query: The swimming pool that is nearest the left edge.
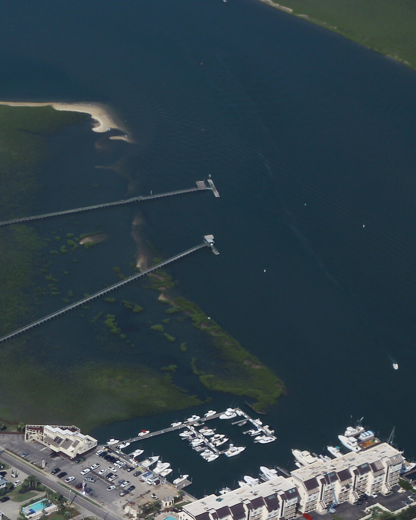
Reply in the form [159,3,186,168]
[22,498,55,516]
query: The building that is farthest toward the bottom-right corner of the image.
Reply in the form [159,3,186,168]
[292,443,404,514]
